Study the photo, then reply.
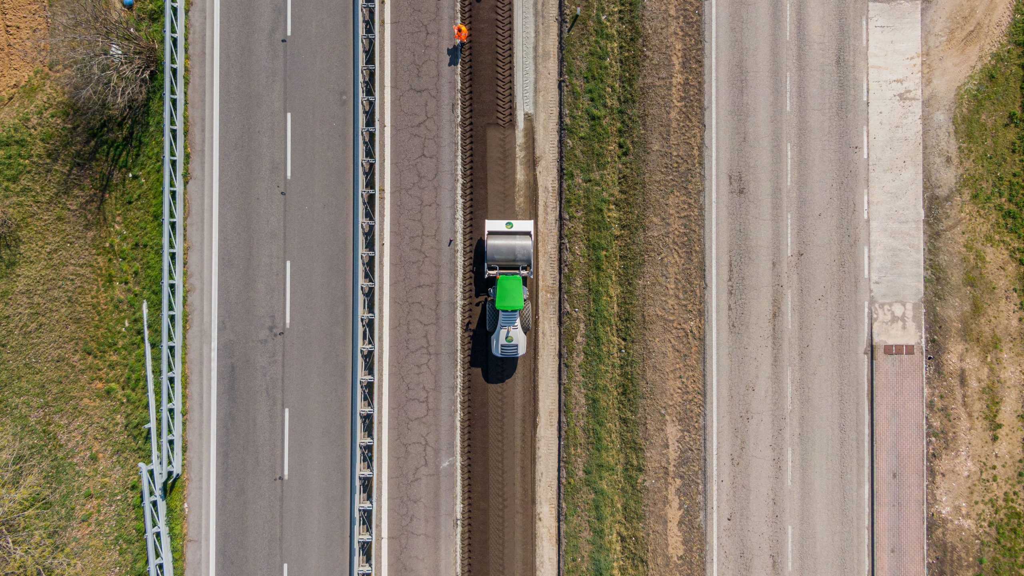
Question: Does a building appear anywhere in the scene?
No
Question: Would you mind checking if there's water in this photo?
No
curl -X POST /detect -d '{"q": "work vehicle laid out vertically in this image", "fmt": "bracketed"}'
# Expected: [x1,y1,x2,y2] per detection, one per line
[480,220,533,357]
